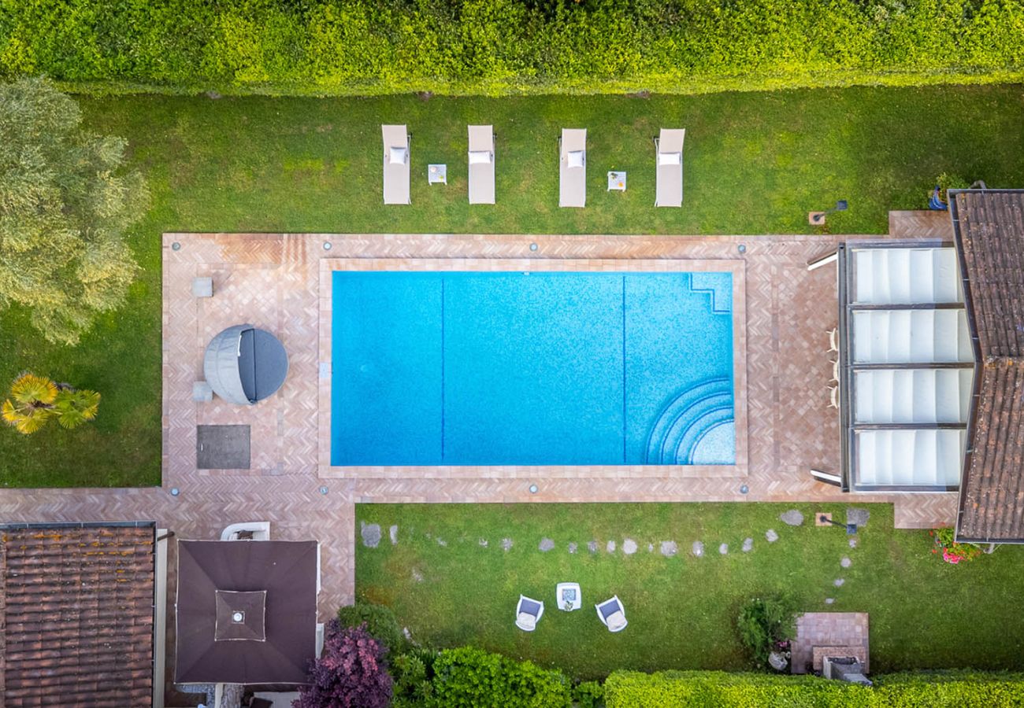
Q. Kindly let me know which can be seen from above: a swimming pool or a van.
swimming pool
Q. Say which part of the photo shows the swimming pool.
center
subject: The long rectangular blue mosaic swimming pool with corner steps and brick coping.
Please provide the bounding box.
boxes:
[318,259,748,477]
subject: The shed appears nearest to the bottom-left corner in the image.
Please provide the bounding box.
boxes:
[0,523,173,708]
